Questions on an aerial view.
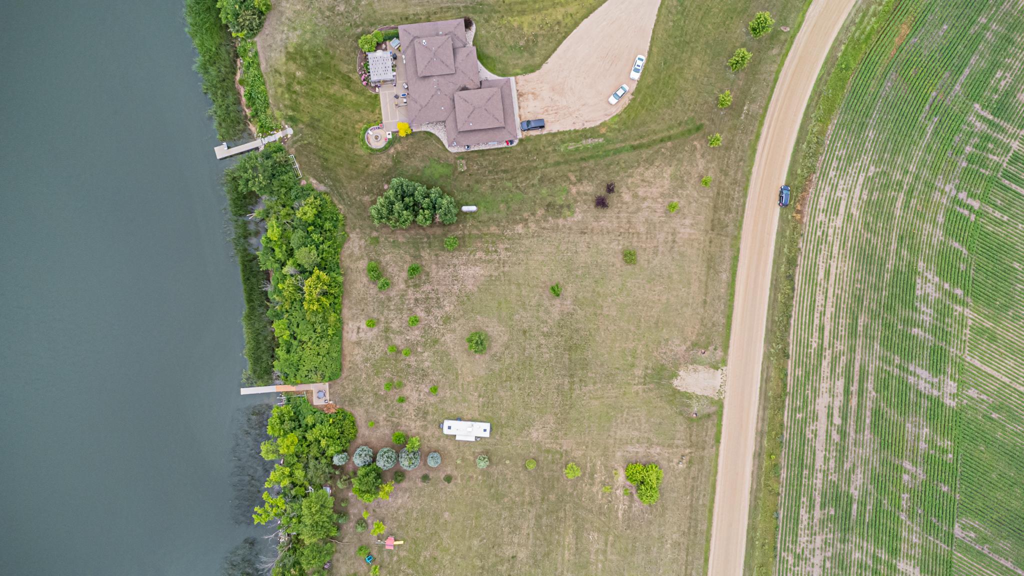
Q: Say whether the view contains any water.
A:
Yes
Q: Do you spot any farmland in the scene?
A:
Yes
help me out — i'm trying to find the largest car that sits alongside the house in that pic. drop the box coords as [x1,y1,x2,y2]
[520,118,545,132]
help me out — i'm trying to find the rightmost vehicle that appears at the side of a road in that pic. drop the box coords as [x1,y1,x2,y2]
[778,185,791,207]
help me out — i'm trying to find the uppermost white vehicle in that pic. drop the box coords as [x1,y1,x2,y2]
[630,55,644,80]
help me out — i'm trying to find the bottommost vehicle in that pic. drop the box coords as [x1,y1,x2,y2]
[439,414,492,441]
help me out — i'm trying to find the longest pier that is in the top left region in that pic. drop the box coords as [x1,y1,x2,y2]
[214,139,263,159]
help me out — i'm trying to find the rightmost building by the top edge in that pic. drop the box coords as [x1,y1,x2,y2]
[398,18,517,147]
